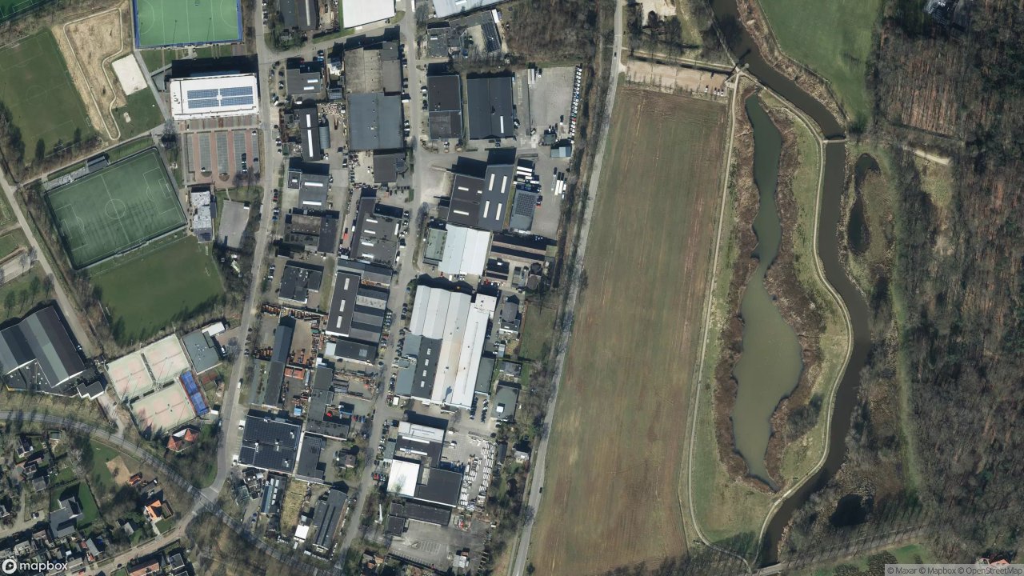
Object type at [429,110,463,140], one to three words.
building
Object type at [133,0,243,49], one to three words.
sports field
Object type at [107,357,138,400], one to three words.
tennis court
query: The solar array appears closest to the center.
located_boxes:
[515,194,536,216]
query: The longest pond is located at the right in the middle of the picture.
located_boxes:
[733,95,801,491]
